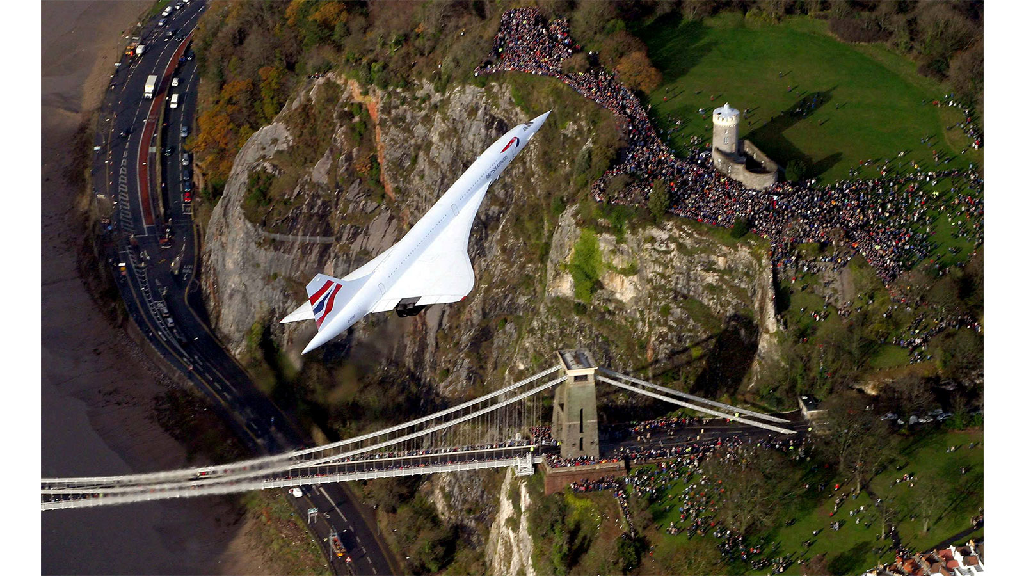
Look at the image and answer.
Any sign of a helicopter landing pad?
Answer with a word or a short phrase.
No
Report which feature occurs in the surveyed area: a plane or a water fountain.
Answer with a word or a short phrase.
plane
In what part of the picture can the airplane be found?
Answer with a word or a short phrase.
center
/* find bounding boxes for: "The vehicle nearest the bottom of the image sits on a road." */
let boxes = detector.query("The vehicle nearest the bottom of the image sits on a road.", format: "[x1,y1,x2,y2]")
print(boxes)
[327,530,347,549]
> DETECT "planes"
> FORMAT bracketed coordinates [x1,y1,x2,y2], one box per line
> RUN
[277,110,552,355]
